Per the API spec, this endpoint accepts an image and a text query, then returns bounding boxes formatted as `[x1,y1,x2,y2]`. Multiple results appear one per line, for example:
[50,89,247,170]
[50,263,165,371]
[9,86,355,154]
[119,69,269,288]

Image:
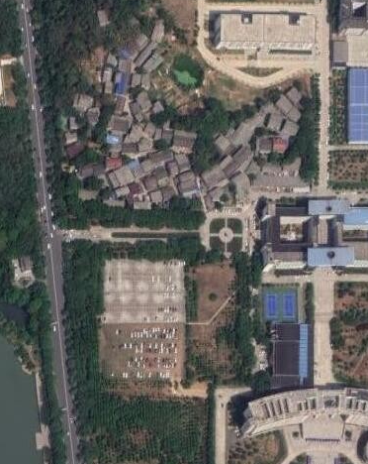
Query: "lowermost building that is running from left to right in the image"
[238,387,368,442]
